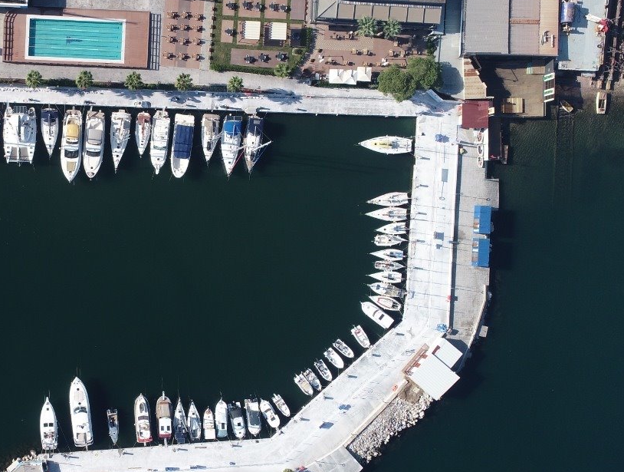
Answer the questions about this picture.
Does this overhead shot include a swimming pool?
Yes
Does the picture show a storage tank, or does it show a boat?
boat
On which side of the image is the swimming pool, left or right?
left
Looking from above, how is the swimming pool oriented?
horizontally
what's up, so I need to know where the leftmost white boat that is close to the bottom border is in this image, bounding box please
[37,394,61,460]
